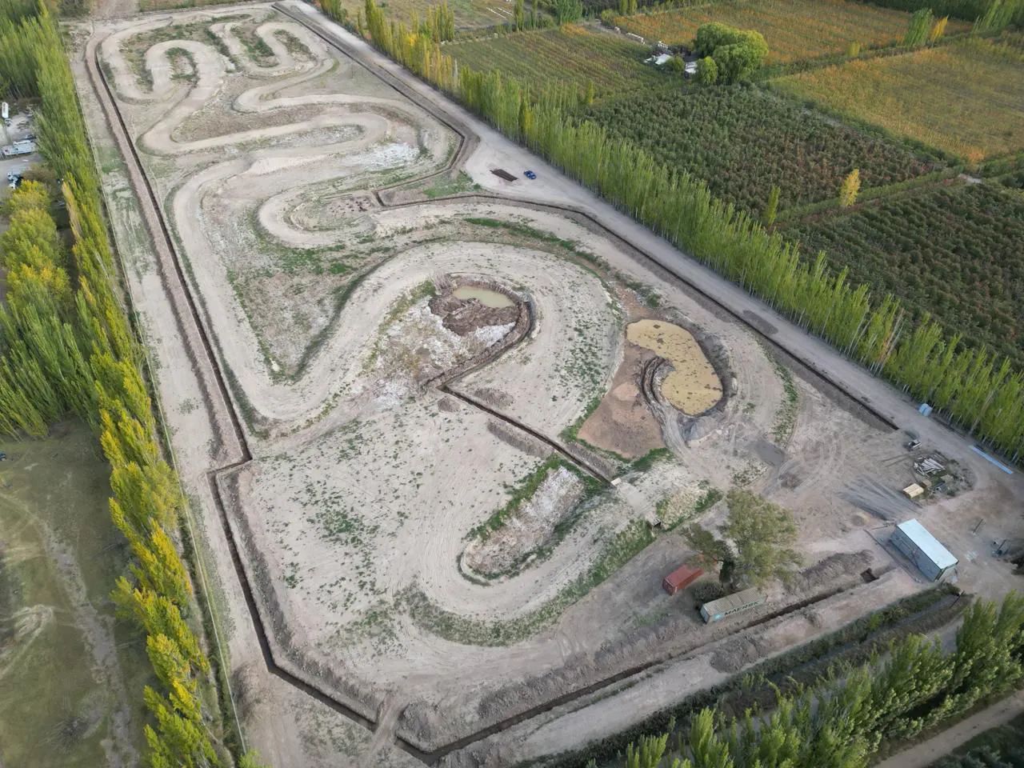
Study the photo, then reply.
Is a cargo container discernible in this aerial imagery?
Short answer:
Yes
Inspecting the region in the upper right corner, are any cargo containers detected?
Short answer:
No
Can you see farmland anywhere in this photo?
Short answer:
Yes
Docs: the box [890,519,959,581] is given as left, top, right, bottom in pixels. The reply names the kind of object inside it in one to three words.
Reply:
shed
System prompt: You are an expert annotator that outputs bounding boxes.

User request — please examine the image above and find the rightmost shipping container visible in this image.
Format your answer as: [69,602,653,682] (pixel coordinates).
[702,581,768,620]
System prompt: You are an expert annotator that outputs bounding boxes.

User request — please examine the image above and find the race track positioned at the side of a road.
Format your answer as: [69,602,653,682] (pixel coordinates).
[99,2,785,627]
